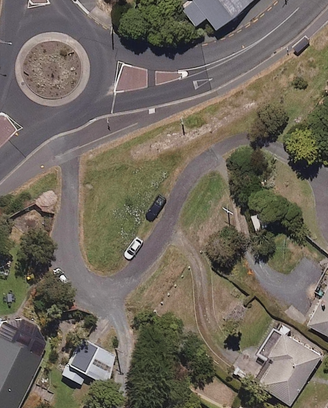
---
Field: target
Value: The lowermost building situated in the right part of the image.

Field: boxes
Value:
[256,325,322,408]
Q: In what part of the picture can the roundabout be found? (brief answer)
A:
top left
